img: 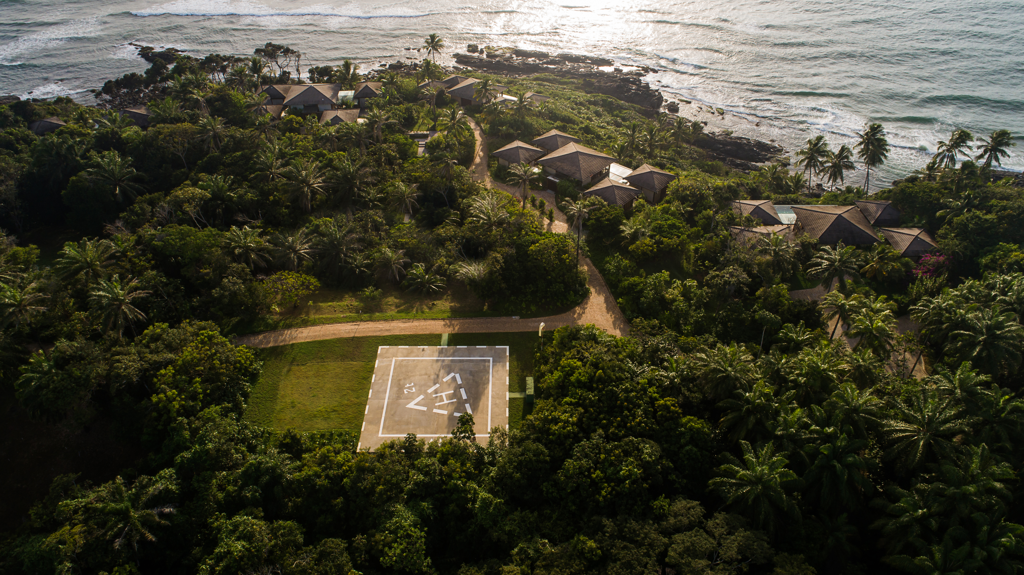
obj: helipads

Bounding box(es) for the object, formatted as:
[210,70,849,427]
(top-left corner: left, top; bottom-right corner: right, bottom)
[358,346,509,453]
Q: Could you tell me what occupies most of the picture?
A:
trees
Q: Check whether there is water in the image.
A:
Yes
